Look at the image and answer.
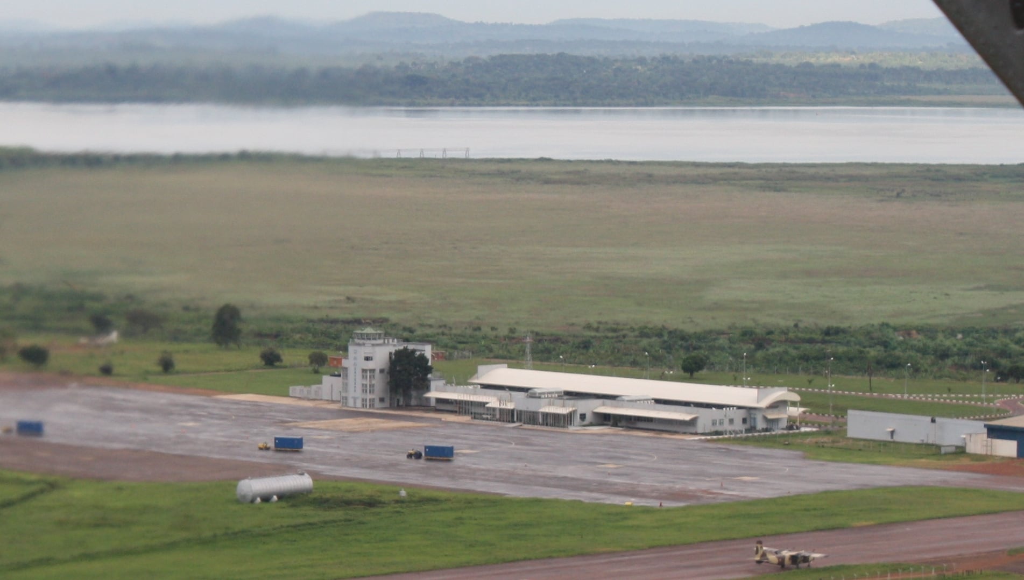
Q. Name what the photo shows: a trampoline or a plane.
plane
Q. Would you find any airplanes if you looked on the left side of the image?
No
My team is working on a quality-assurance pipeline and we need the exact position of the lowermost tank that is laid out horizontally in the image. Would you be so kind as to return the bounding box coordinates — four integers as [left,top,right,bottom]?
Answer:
[237,467,311,502]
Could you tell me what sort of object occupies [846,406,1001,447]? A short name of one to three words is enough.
shed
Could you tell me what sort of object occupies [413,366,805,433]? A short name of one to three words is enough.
building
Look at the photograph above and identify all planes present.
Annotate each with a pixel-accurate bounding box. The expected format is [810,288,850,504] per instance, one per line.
[749,541,824,567]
